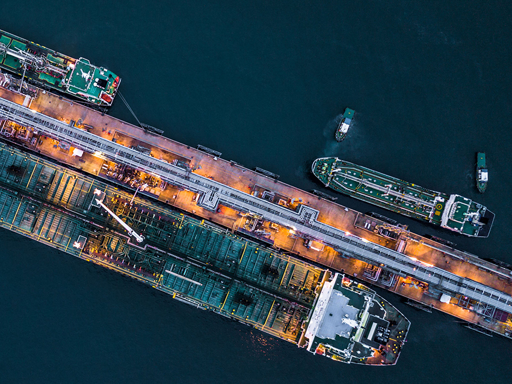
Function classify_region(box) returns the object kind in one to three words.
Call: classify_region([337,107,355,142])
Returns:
boat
